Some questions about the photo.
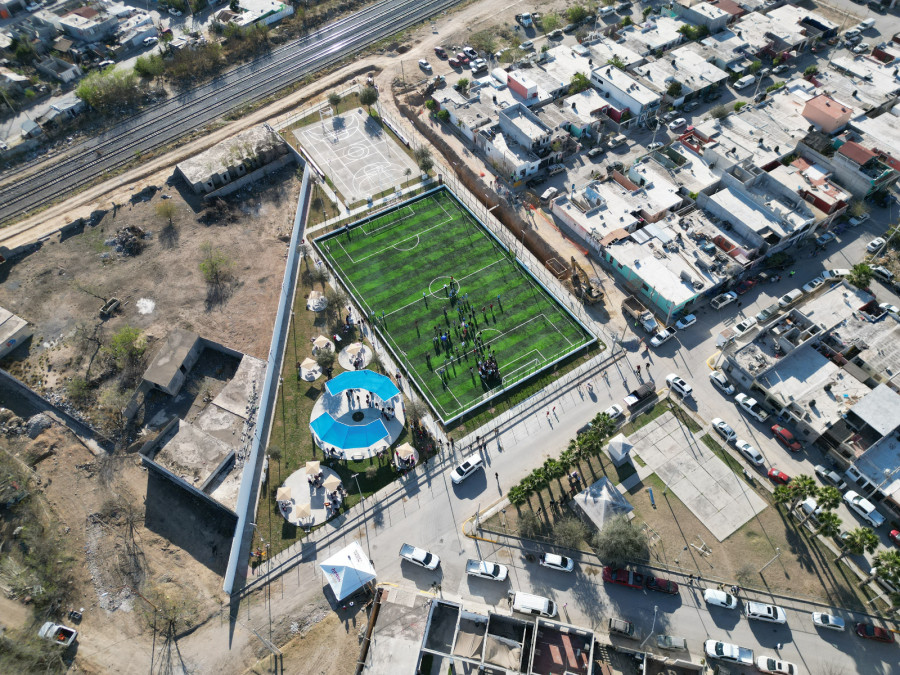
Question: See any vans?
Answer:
Yes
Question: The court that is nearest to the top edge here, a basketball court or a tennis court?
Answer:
basketball court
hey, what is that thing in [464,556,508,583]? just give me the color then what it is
white truck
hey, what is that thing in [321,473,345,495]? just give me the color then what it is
white umbrella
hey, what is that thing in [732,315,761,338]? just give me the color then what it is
white car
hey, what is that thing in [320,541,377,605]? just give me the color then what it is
white tent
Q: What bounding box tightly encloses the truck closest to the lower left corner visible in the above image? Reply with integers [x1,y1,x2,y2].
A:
[36,621,80,645]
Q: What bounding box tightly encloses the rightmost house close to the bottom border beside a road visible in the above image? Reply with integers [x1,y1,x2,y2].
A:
[529,615,594,675]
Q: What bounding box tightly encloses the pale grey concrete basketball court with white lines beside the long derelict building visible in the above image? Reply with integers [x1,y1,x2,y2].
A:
[293,107,421,202]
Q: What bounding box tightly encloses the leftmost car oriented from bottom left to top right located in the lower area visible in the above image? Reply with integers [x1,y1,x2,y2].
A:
[448,451,486,483]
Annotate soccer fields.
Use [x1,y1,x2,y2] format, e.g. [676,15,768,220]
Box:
[314,185,597,428]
